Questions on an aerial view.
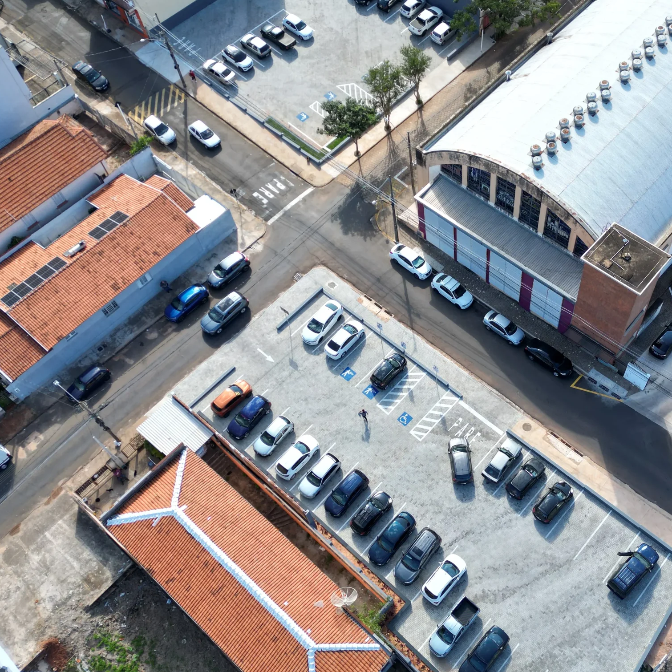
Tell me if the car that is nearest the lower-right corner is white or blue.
blue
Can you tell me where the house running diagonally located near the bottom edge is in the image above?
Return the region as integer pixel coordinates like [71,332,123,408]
[107,448,389,672]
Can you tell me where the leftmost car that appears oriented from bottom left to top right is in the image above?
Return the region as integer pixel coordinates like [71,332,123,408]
[67,364,115,403]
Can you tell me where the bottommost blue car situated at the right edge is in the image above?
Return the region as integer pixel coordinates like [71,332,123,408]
[610,545,659,600]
